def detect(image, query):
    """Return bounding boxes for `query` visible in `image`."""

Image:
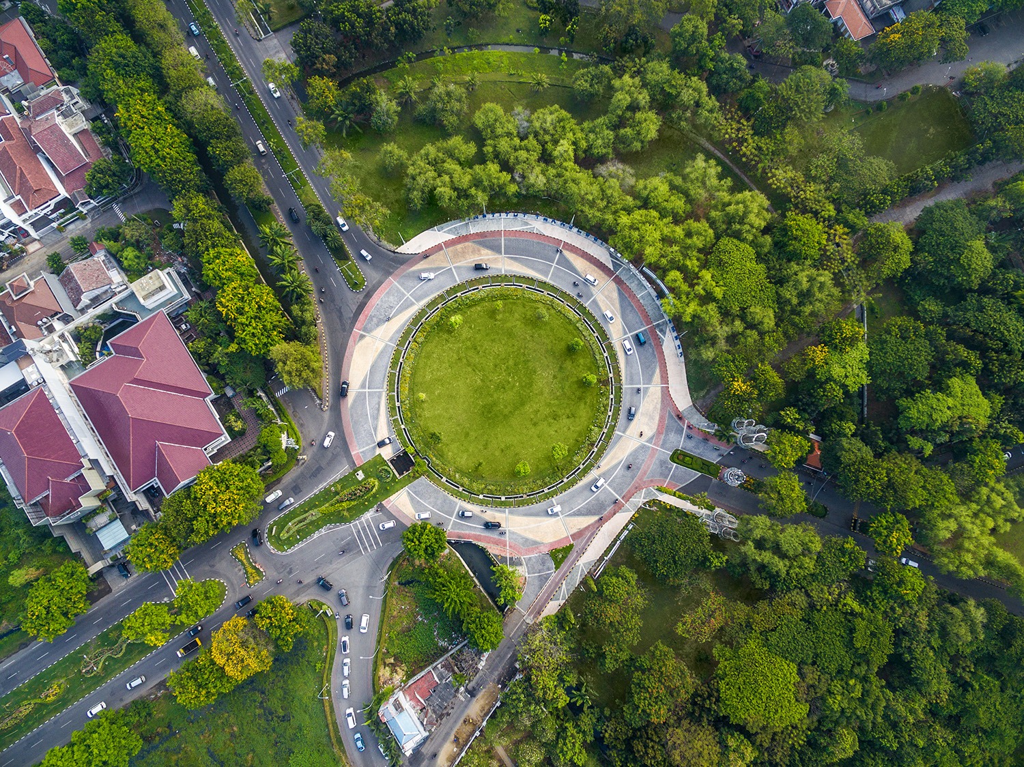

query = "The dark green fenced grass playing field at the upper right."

[856,85,978,174]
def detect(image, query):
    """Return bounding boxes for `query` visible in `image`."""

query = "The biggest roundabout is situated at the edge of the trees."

[341,230,671,555]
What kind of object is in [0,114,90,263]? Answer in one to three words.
house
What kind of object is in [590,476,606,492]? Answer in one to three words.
vehicle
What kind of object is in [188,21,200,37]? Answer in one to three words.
vehicle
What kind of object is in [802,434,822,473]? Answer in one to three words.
shed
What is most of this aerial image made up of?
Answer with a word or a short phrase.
trees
